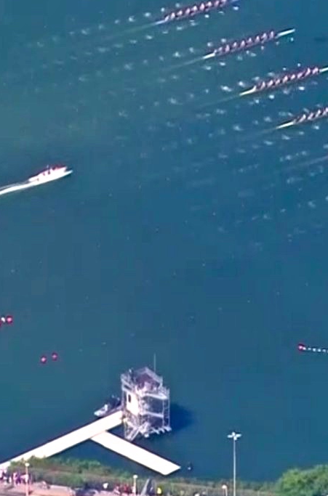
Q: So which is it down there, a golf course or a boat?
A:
boat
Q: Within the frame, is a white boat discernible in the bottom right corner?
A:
No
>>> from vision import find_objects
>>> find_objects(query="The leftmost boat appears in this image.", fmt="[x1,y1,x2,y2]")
[27,162,70,185]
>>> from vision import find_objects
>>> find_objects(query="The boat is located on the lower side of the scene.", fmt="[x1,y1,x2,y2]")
[95,392,123,413]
